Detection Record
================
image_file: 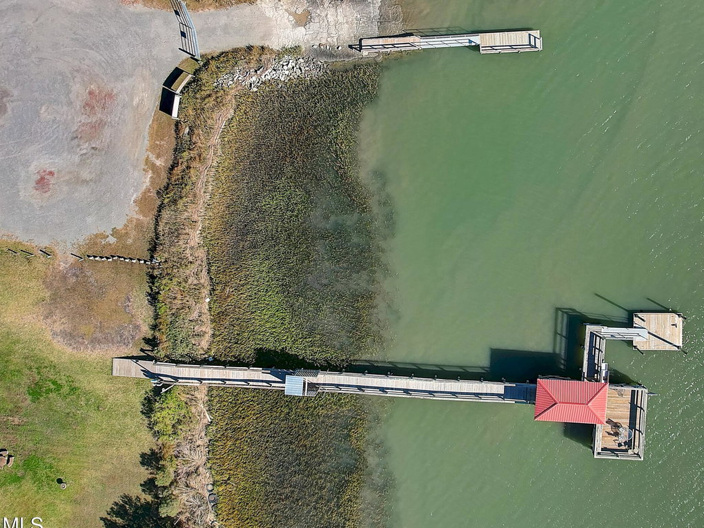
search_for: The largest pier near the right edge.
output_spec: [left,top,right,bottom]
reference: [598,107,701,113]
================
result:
[632,312,682,351]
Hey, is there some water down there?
Yes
